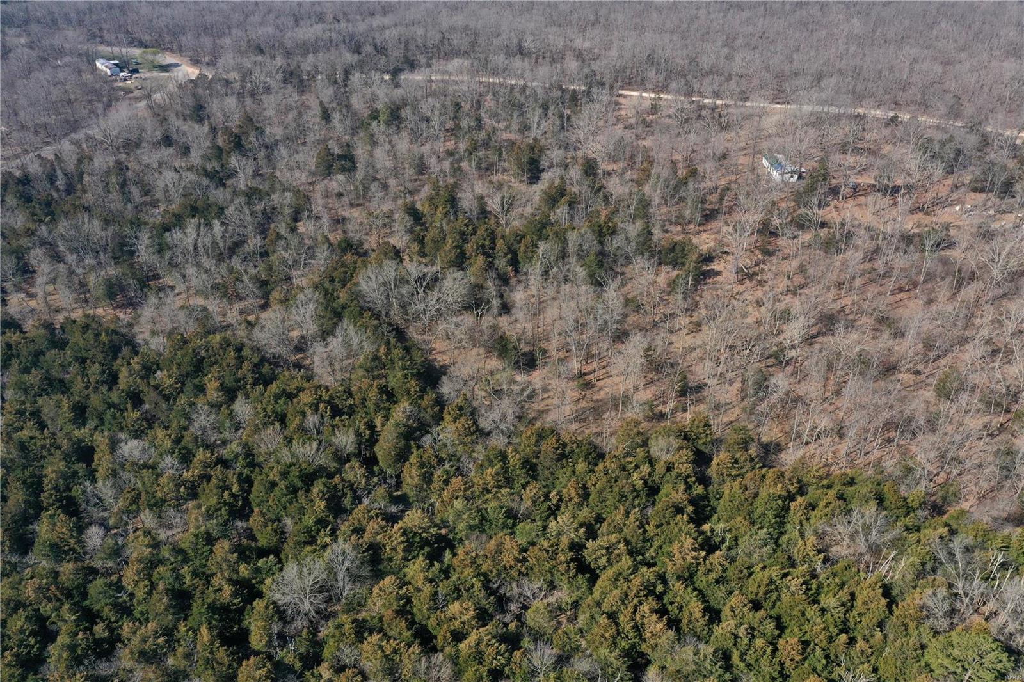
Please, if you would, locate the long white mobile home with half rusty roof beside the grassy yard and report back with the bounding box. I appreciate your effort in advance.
[95,54,121,74]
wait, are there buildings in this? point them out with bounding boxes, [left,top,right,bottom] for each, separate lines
[761,157,798,185]
[95,54,121,74]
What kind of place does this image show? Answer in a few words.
forest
